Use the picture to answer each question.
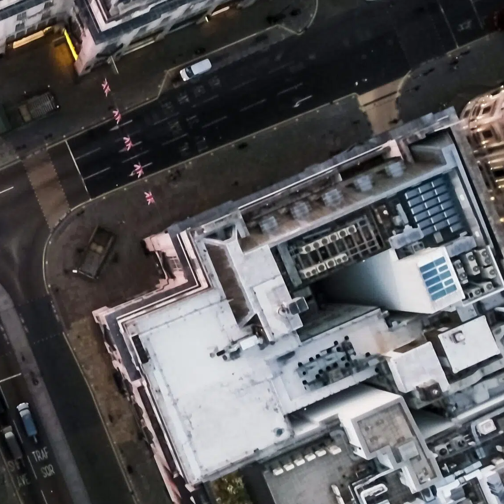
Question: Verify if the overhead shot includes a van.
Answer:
Yes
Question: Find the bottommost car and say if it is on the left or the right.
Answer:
left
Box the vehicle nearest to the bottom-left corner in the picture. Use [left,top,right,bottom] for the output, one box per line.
[0,423,23,462]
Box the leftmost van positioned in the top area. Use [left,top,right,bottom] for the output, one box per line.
[176,54,218,84]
